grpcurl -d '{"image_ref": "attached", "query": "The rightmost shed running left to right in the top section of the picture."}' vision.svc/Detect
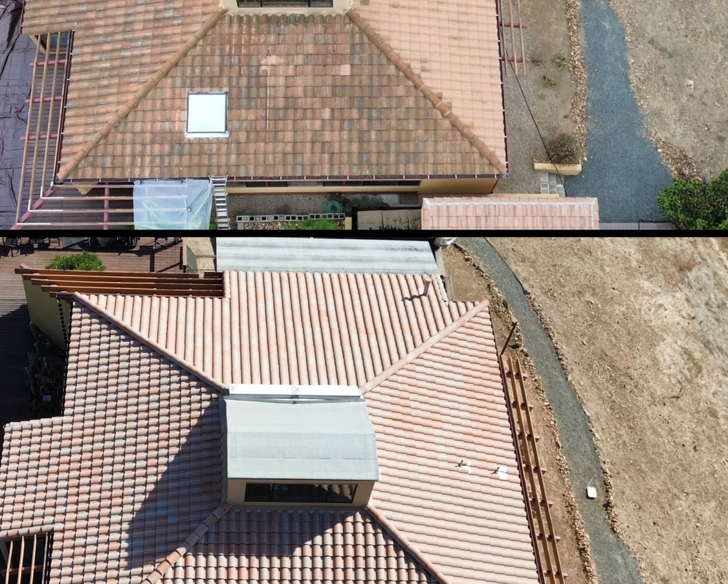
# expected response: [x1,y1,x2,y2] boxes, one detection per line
[421,193,603,228]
